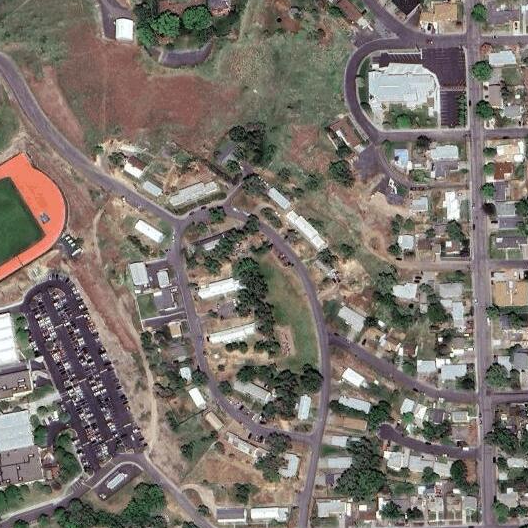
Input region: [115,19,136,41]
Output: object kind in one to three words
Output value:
house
